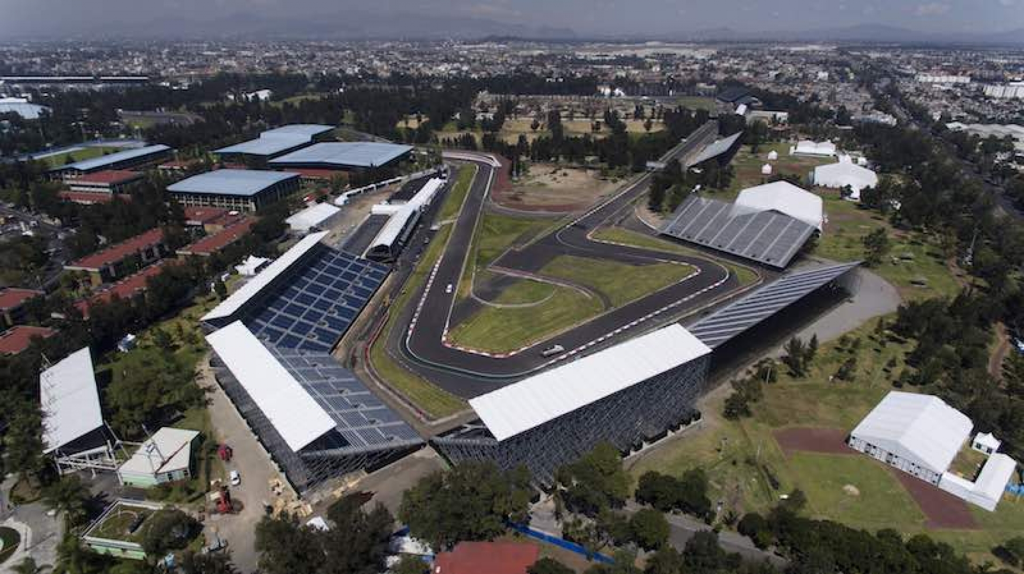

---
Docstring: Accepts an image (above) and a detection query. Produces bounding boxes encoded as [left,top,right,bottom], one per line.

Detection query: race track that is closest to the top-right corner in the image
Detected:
[410,118,727,375]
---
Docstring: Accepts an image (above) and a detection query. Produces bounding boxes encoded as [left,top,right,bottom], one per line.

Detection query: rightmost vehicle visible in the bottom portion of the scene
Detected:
[541,341,564,357]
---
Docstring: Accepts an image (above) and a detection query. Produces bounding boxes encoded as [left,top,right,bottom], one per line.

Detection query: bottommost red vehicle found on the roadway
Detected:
[213,486,233,513]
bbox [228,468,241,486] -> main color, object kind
white vehicle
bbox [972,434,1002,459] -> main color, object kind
white tent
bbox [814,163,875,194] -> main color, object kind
white tent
